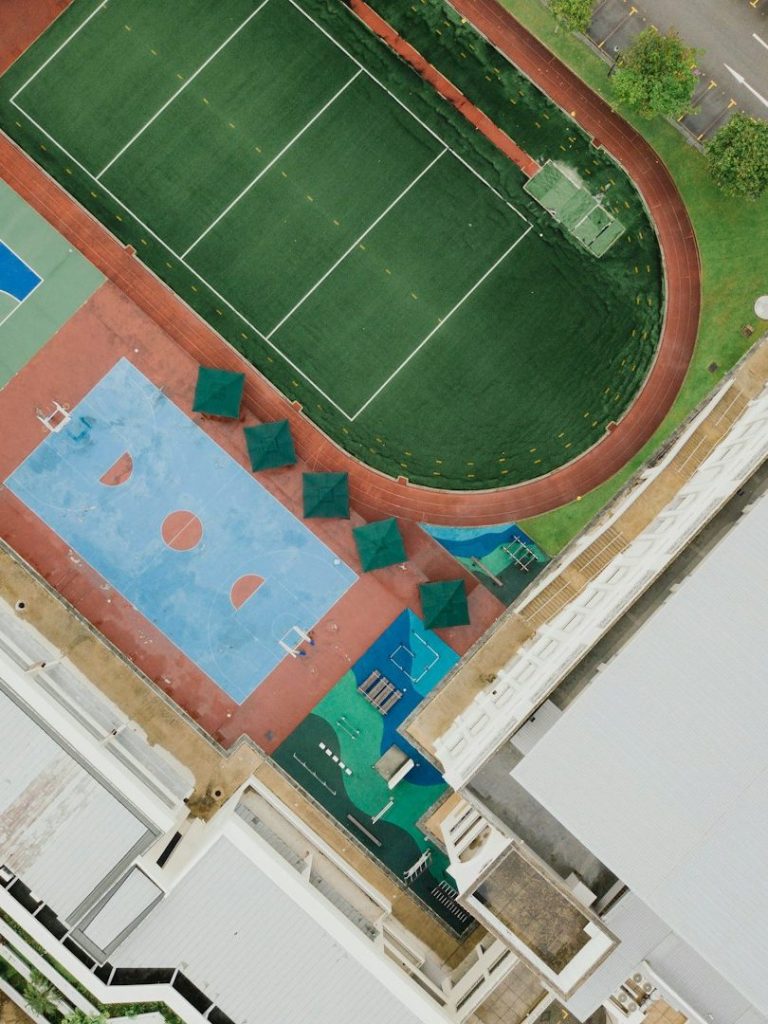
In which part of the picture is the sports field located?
top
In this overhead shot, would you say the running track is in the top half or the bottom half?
top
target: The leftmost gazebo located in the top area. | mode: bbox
[193,366,246,419]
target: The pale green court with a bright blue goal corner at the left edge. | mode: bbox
[0,184,103,390]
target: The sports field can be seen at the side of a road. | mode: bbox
[0,0,662,491]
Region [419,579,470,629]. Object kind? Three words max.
gazebo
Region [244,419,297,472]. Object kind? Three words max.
gazebo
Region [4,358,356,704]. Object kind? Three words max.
basketball court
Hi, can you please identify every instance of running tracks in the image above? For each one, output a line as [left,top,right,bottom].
[0,0,702,528]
